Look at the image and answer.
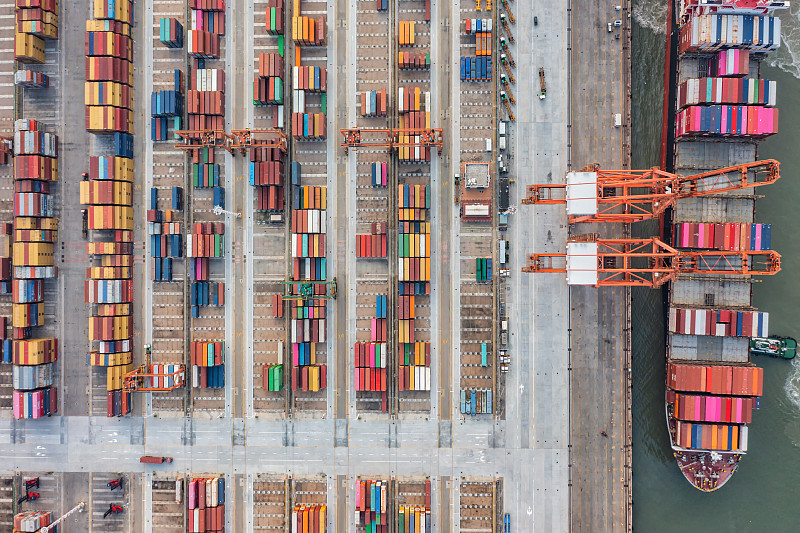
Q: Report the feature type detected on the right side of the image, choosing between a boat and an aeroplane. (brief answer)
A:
boat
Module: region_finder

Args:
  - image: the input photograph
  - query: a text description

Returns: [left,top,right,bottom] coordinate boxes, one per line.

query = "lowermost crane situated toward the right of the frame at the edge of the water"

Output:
[525,235,786,291]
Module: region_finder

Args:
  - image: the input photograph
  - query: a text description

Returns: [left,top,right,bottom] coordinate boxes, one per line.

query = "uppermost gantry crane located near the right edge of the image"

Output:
[525,158,786,229]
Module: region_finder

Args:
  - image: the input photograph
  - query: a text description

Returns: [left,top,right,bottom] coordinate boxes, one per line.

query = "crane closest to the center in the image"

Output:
[280,279,338,301]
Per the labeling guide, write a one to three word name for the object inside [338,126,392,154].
container crane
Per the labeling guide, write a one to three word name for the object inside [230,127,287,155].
container crane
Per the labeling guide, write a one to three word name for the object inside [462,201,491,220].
building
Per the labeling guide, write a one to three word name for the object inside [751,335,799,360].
boat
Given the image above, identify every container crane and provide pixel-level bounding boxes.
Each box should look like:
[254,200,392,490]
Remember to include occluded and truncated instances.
[525,158,786,229]
[390,126,445,155]
[173,128,234,156]
[121,364,187,391]
[280,279,338,301]
[338,126,392,154]
[230,127,287,155]
[525,235,786,291]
